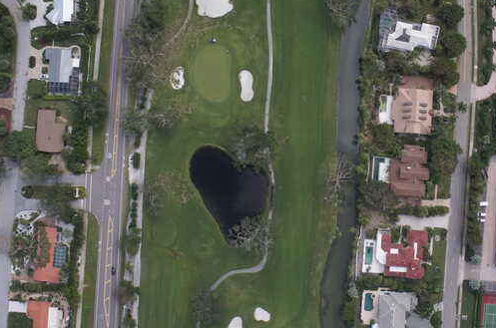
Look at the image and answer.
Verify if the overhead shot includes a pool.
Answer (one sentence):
Yes, a pool appears in the view.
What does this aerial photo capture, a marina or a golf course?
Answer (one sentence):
The area seen from above is a golf course.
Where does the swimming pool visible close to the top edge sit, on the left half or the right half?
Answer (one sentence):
The swimming pool visible close to the top edge appears in the right half of the scene.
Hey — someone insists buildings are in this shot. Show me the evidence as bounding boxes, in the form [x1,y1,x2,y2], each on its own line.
[36,109,67,153]
[33,228,68,284]
[46,0,77,24]
[27,301,65,328]
[376,230,428,279]
[44,47,81,95]
[379,9,440,51]
[371,290,417,328]
[392,88,434,134]
[389,144,430,199]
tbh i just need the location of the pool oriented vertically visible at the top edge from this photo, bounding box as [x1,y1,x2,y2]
[378,8,397,50]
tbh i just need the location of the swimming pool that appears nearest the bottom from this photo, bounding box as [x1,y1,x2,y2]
[361,290,379,325]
